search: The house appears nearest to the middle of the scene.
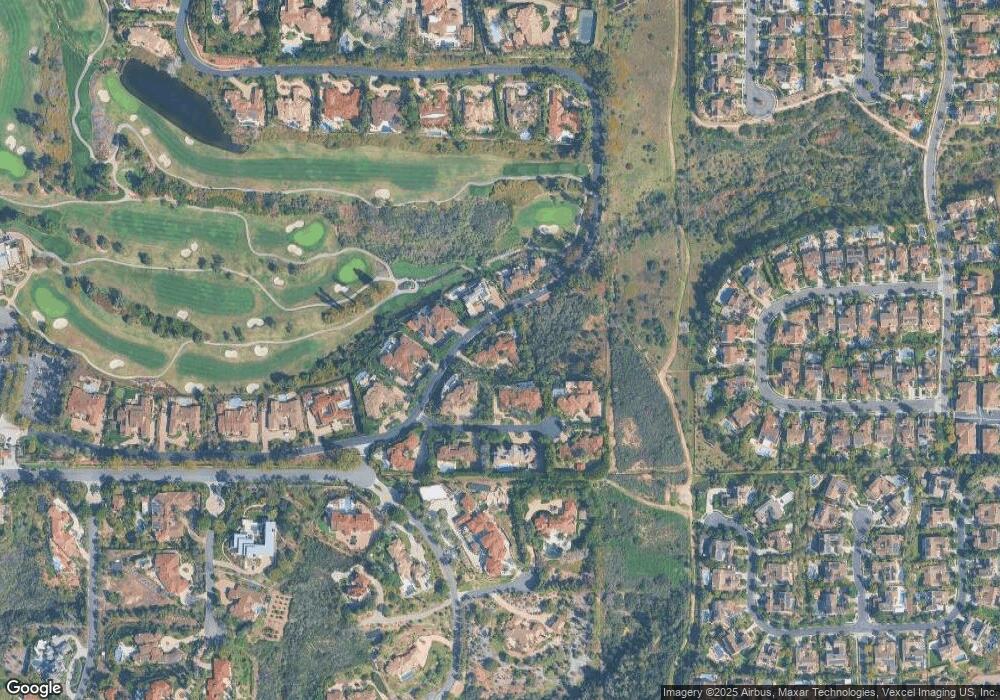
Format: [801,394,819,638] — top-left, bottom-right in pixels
[472,333,520,369]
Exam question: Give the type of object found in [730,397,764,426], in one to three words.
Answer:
house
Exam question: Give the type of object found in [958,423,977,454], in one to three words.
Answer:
building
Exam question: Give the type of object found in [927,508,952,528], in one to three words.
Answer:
house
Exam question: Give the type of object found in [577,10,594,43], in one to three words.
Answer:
tennis court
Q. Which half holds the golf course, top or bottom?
top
